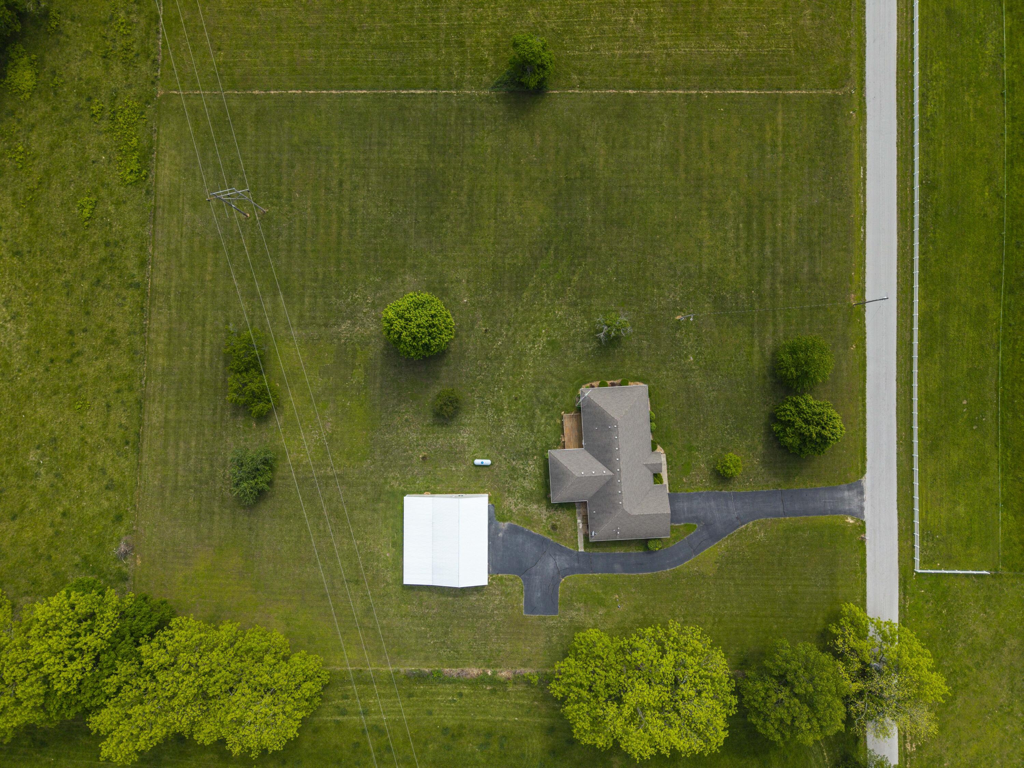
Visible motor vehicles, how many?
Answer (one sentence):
No motor vehicles are visible.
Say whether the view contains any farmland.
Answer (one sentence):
Yes, the picture does contain farmland.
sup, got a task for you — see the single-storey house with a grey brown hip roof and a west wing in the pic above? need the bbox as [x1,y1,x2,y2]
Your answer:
[548,384,672,542]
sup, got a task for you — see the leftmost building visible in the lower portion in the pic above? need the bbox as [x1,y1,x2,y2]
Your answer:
[404,494,489,588]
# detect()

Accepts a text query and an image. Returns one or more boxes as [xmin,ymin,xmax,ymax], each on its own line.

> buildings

[548,384,672,542]
[404,494,489,588]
